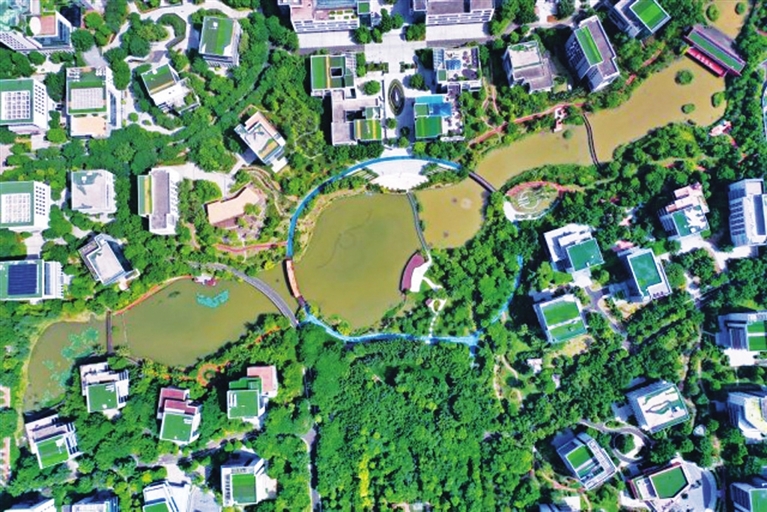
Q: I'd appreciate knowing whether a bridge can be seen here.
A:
Yes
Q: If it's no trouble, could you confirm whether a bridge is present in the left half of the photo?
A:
Yes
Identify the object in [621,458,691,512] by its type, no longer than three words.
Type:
building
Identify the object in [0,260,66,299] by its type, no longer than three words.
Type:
building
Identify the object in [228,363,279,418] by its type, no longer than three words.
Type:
house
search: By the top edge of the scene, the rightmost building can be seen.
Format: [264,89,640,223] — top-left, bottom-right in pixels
[592,0,671,44]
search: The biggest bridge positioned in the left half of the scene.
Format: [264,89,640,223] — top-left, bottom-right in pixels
[213,263,300,329]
